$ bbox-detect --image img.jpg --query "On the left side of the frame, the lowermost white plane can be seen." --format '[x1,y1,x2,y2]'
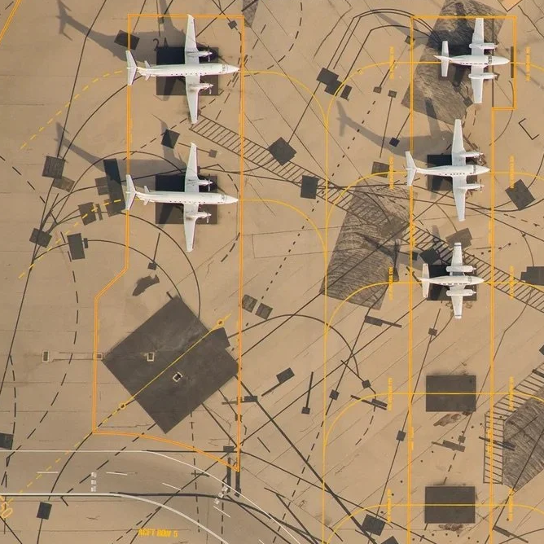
[120,143,237,249]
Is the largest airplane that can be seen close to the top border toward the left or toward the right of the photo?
left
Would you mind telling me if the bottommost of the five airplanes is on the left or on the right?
right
